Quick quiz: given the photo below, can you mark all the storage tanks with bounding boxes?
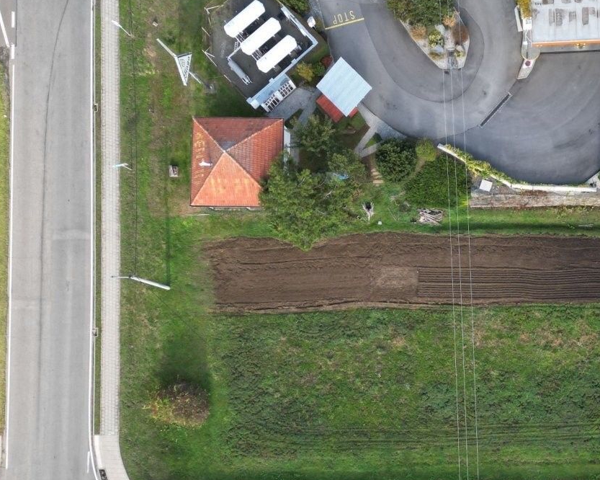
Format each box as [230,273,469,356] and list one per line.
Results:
[223,1,267,36]
[256,36,299,69]
[240,19,284,52]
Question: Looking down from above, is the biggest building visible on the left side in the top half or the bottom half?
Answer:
top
